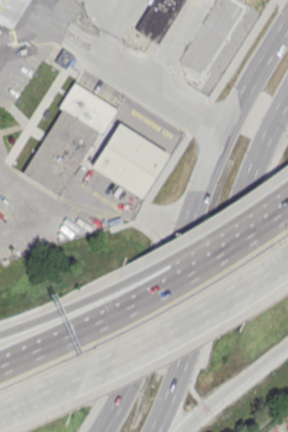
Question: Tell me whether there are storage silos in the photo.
No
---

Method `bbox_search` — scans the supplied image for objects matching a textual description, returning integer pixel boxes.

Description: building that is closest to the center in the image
[92,122,169,200]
